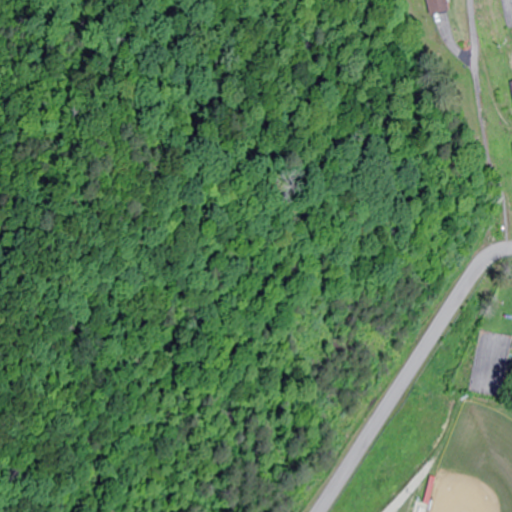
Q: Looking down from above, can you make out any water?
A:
No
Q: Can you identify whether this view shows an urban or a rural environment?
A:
rural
